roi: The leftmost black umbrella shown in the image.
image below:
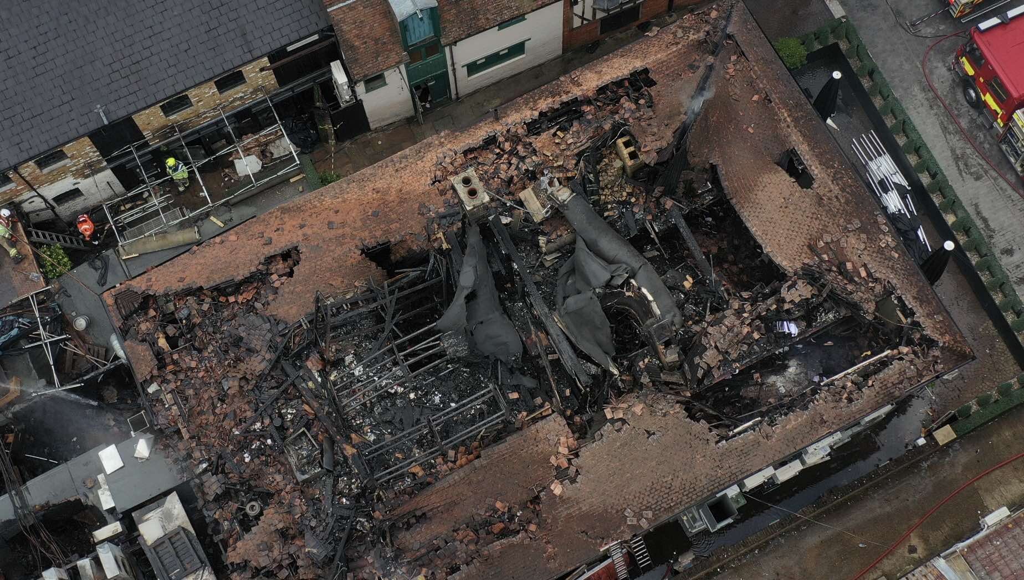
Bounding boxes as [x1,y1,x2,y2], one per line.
[811,70,841,123]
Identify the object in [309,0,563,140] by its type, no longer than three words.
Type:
building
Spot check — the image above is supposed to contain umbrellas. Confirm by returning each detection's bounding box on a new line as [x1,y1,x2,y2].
[811,70,841,123]
[925,241,953,285]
